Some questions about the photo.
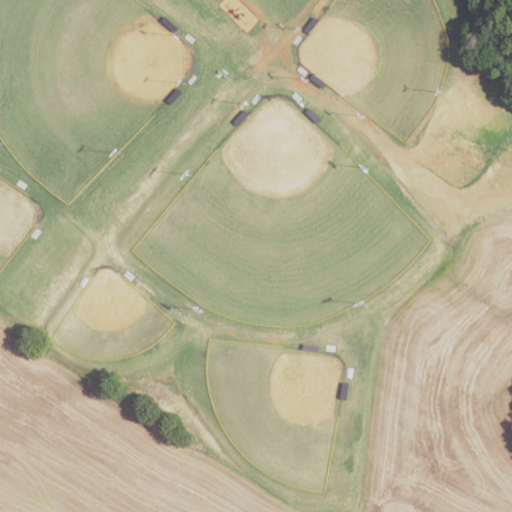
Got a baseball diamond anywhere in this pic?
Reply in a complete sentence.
Yes, this view includes a baseball diamond.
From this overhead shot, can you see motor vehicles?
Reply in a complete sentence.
No, the frame has no motor vehicle in it.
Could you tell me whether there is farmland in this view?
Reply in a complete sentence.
Yes, the picture does contain farmland.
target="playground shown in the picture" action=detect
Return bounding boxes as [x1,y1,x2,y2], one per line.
[219,0,259,32]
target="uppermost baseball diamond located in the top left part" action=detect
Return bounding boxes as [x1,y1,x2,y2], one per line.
[0,0,192,203]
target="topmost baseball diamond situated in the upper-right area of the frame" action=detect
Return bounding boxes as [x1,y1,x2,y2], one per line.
[298,0,447,140]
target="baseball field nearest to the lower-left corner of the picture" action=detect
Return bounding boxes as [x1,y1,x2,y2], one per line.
[52,266,174,360]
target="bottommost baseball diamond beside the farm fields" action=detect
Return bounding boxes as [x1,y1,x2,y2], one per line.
[208,340,344,490]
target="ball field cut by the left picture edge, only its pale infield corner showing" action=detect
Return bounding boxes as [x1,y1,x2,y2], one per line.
[0,179,43,266]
